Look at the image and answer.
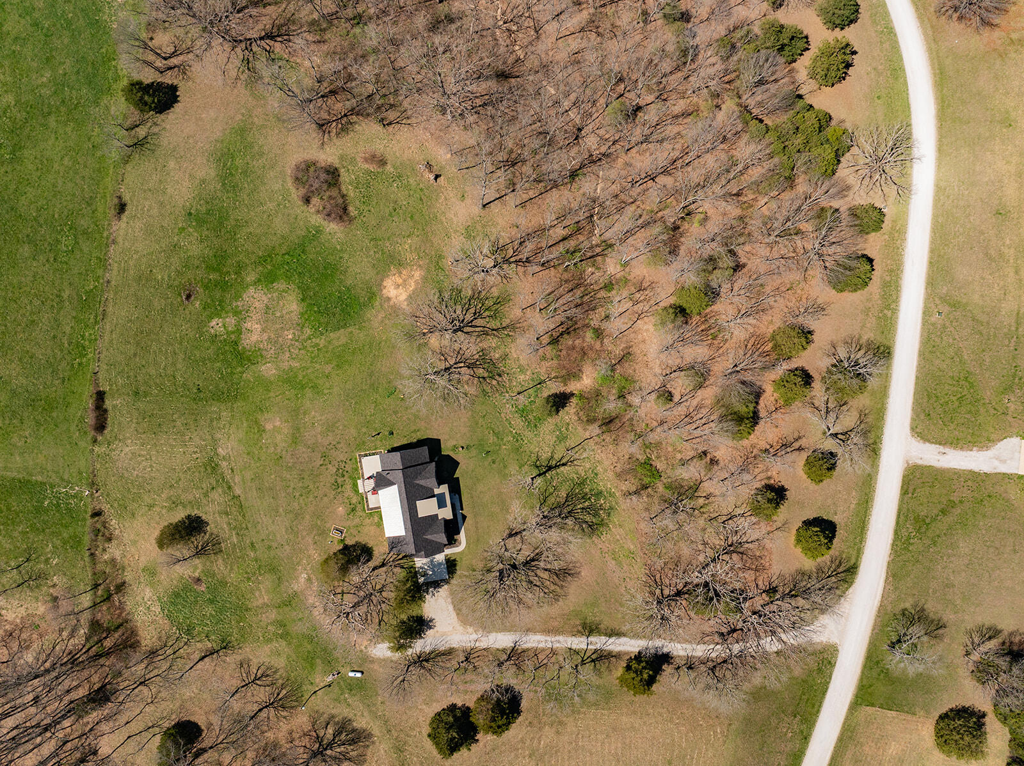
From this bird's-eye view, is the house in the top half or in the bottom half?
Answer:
bottom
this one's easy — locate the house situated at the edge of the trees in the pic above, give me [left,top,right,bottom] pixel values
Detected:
[375,447,453,558]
